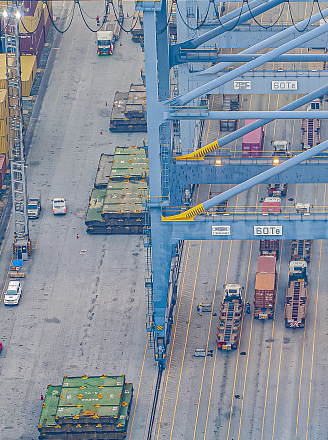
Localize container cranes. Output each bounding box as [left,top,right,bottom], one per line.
[173,0,328,200]
[0,0,328,373]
